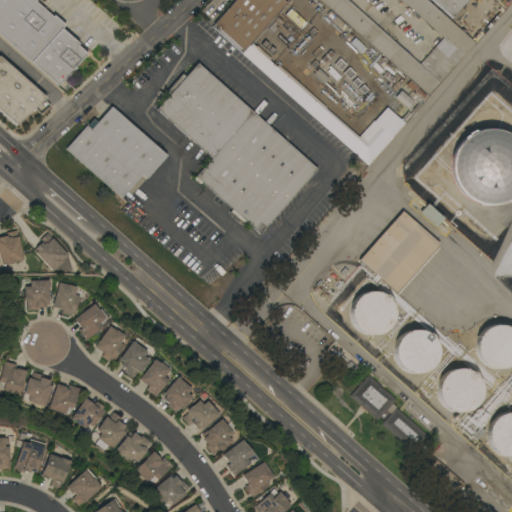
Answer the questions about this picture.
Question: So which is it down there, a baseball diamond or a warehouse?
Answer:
warehouse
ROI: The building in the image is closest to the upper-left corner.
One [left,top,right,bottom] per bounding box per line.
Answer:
[0,0,66,63]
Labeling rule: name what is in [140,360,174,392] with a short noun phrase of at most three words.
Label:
house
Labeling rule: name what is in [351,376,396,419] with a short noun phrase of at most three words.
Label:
building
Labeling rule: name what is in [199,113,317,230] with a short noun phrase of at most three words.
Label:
warehouse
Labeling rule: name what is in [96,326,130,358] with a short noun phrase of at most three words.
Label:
house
